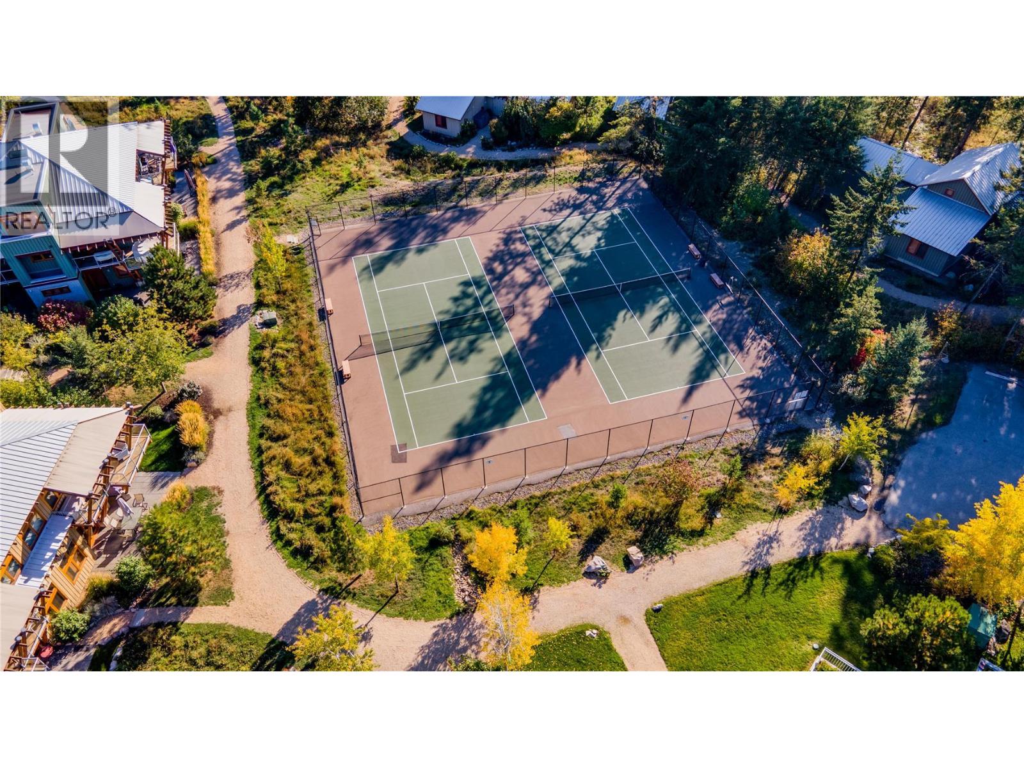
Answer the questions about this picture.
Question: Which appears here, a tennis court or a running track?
tennis court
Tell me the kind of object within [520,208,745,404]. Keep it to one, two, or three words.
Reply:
tennis court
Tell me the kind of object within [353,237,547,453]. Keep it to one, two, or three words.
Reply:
tennis court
